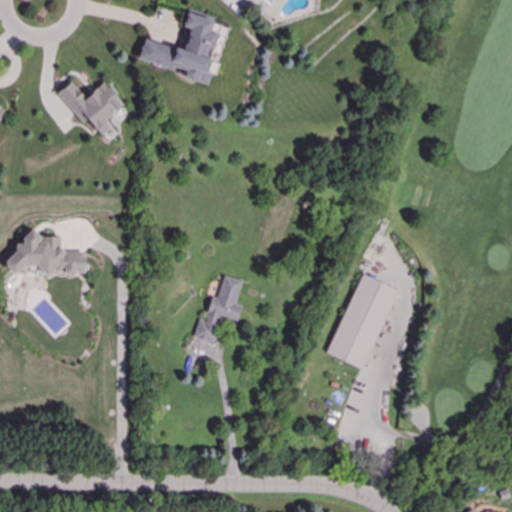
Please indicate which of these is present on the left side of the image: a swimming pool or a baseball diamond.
swimming pool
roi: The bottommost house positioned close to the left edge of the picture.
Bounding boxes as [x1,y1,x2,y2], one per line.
[2,230,90,278]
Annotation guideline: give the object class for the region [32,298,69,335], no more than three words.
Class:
swimming pool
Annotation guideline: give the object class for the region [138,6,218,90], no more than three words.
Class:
house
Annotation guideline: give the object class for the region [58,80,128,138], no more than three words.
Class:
house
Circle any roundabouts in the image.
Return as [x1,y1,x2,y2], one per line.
[0,0,87,46]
